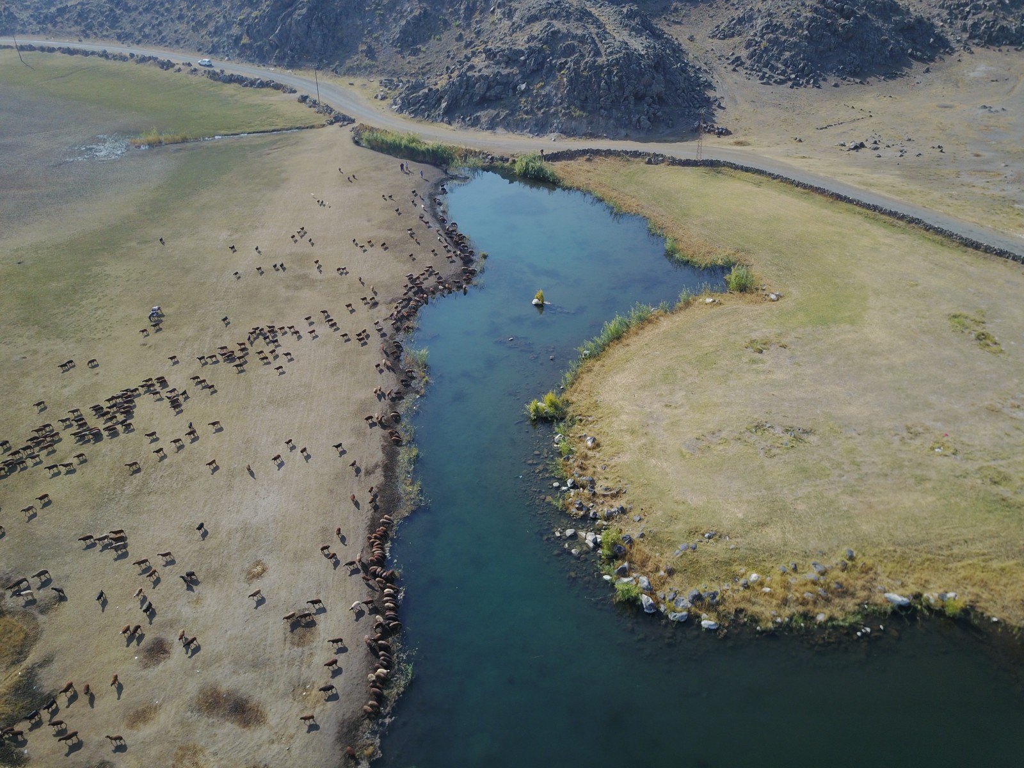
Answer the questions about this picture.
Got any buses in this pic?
No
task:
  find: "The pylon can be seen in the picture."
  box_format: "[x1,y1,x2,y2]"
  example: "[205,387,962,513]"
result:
[695,104,712,159]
